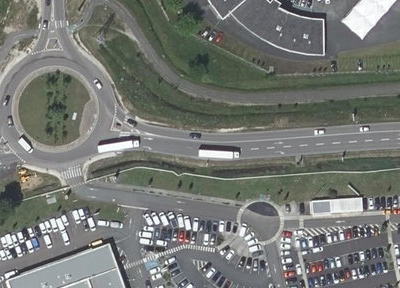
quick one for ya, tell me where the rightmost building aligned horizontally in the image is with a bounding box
[310,197,364,215]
